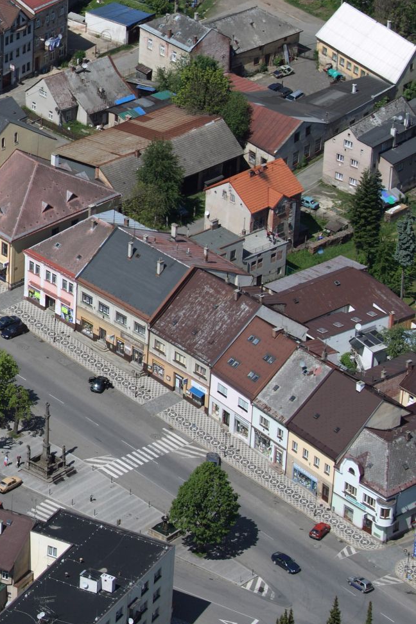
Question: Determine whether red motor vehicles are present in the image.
Yes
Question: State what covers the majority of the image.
buildings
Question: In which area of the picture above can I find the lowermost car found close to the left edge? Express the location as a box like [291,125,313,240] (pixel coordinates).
[0,475,23,492]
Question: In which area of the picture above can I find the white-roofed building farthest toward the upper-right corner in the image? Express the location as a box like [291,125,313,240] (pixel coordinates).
[314,2,416,105]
